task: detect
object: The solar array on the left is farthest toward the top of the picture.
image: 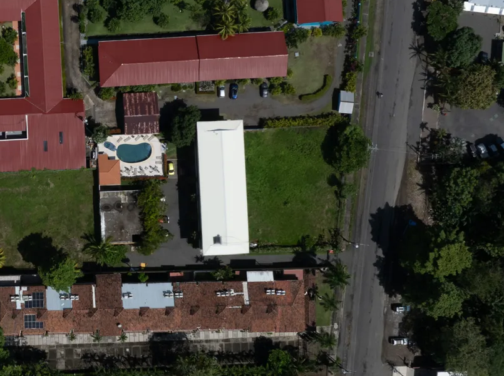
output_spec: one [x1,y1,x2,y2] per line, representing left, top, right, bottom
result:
[25,292,43,308]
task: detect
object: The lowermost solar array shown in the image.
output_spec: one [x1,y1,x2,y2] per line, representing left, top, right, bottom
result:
[25,315,43,329]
